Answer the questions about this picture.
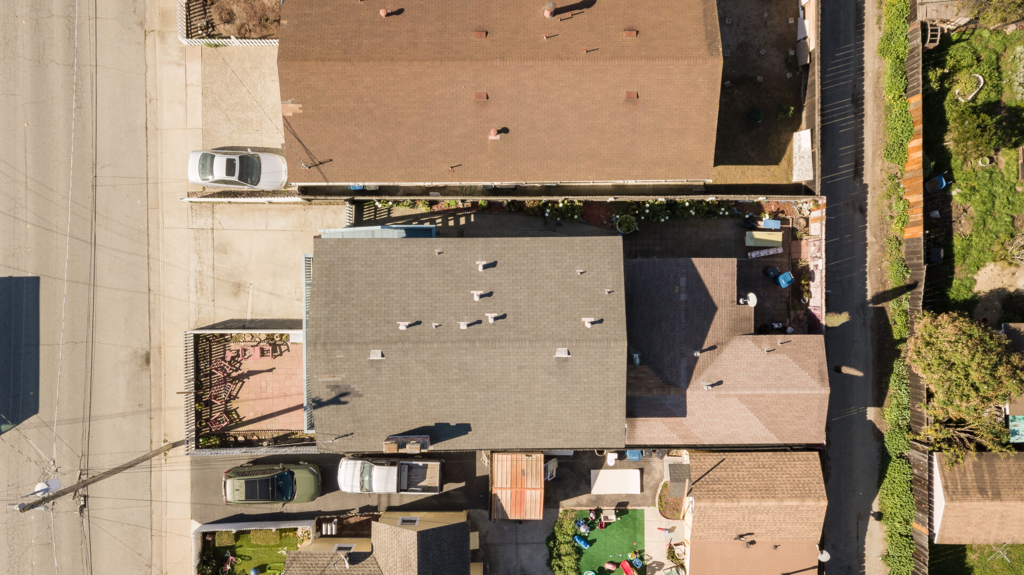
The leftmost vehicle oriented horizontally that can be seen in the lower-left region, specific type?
car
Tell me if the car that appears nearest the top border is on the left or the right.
left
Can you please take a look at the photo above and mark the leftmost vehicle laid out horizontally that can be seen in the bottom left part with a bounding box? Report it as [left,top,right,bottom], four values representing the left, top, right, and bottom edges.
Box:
[223,460,321,509]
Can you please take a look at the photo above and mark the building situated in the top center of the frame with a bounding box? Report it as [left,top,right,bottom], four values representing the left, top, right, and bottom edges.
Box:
[276,0,722,187]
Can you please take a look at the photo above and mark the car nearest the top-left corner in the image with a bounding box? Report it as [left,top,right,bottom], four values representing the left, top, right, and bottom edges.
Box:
[186,146,287,192]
